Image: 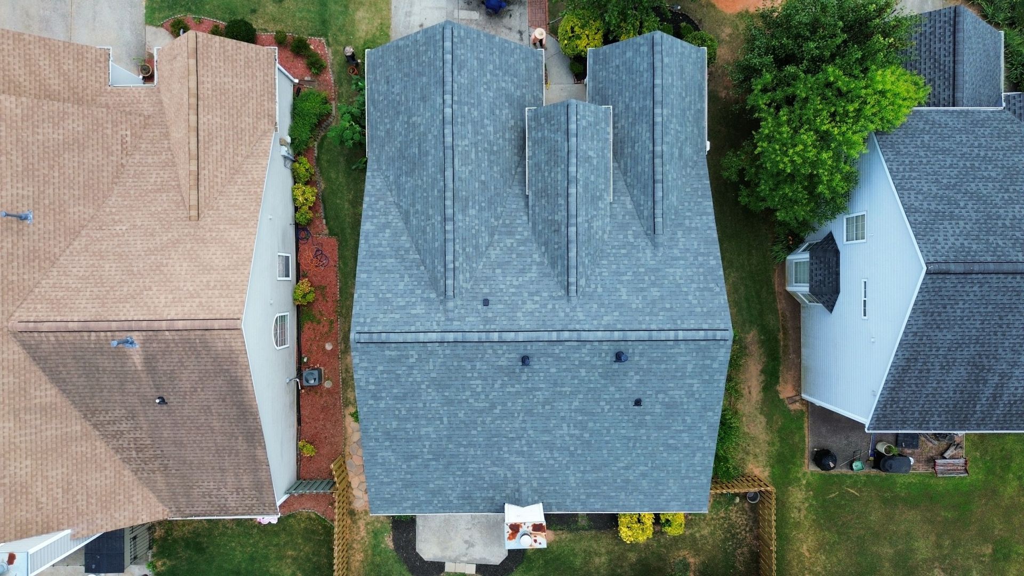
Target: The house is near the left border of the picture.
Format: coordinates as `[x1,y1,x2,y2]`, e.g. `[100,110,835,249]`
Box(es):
[0,29,302,576]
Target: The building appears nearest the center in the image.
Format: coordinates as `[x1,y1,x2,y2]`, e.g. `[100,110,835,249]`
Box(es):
[351,24,733,548]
